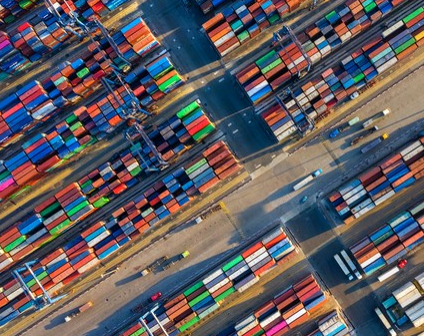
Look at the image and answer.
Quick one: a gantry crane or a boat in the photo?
gantry crane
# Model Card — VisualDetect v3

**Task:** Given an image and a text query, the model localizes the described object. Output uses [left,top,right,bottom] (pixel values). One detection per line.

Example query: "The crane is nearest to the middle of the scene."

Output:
[124,125,175,175]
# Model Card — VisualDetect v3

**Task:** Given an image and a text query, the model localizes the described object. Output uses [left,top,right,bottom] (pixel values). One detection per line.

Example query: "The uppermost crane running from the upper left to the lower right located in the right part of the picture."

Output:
[271,26,314,83]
